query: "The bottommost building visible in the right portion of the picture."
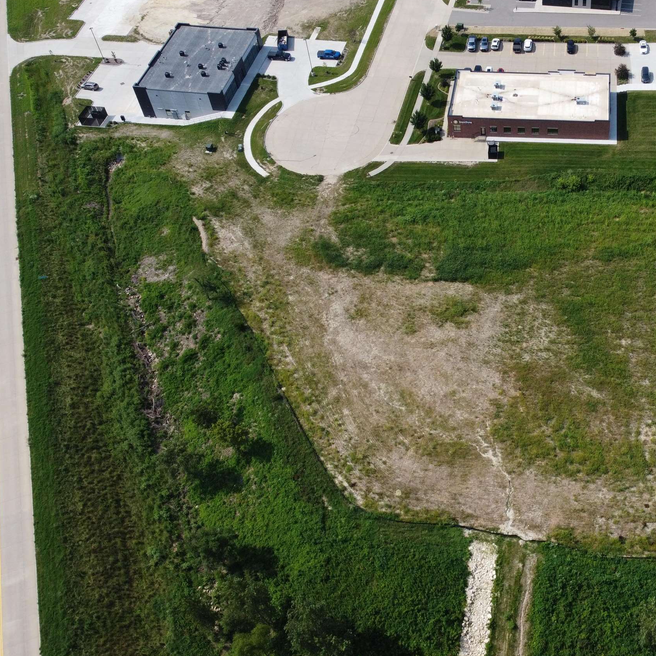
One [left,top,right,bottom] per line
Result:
[447,68,610,141]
